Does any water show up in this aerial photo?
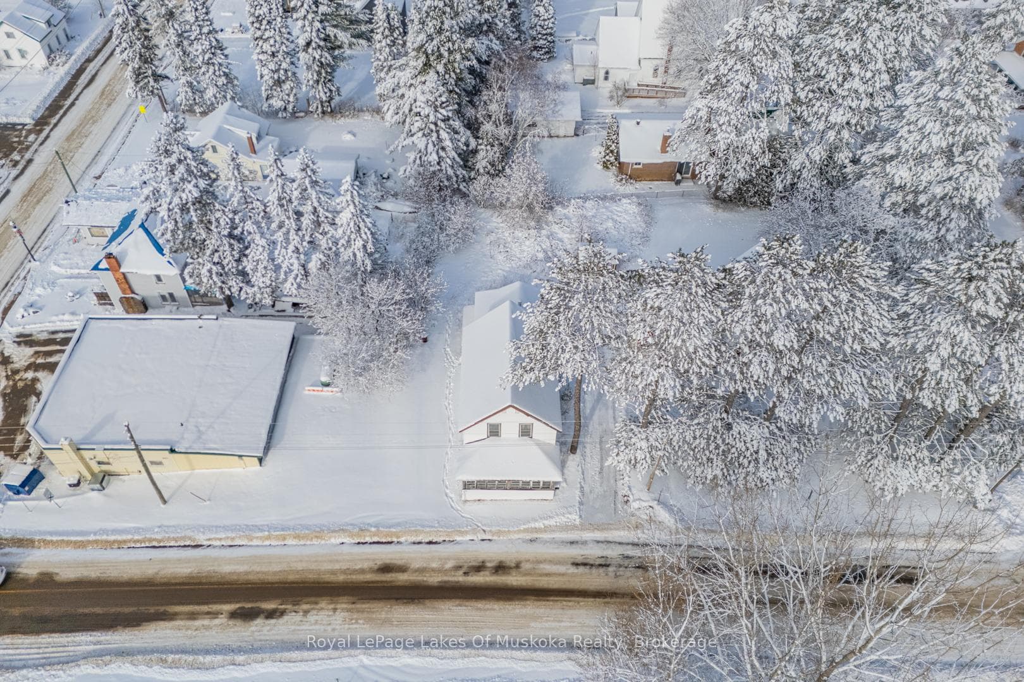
No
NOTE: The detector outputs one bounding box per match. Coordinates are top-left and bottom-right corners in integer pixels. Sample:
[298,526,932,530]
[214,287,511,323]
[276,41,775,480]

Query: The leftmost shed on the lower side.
[0,458,50,502]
